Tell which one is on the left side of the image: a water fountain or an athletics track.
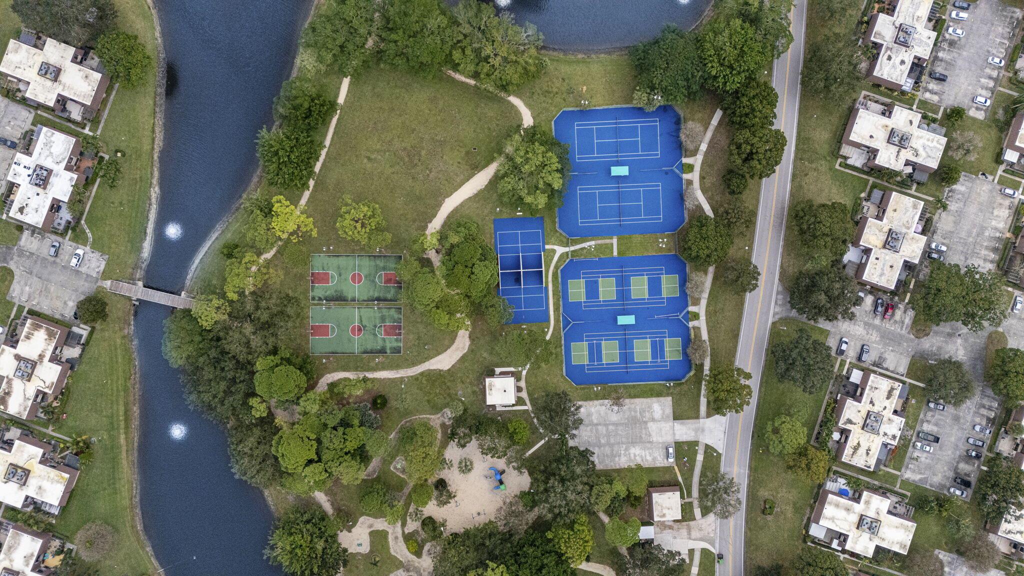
water fountain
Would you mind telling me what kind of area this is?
residential area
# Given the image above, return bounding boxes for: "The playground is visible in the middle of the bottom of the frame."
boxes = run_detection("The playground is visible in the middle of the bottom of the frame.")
[404,438,532,535]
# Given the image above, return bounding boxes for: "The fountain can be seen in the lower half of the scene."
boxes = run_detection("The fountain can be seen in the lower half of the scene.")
[169,419,191,440]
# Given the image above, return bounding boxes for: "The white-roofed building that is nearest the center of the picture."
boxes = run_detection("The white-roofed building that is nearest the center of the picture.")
[485,370,519,408]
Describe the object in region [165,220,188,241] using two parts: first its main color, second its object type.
white fountain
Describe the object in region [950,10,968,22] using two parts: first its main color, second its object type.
white vehicle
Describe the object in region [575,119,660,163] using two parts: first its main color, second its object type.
blue tennis court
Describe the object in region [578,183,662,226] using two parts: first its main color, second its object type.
blue tennis court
